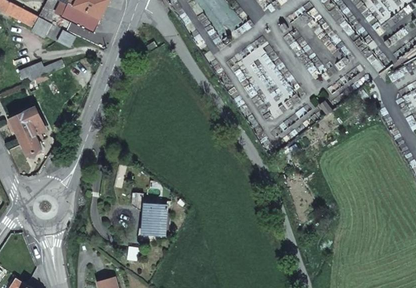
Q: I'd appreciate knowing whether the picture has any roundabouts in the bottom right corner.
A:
No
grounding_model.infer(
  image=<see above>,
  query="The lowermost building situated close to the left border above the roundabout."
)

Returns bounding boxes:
[8,106,44,160]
